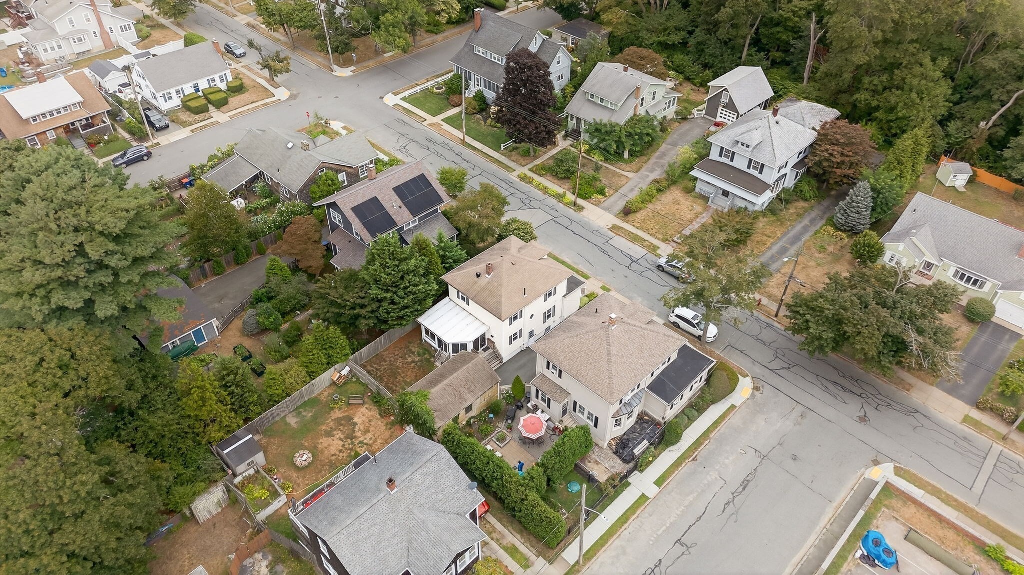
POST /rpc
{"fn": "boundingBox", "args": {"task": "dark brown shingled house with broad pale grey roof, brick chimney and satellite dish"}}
[288,432,487,575]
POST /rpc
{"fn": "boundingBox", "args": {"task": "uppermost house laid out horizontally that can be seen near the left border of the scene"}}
[0,0,142,62]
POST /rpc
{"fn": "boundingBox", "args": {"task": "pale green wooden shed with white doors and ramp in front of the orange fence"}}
[936,155,973,190]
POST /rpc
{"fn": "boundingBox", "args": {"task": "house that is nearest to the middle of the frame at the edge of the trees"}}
[416,235,588,363]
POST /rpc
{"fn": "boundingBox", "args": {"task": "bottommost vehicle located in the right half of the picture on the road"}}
[674,304,722,342]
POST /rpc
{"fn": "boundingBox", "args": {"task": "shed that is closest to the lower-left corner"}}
[217,428,265,477]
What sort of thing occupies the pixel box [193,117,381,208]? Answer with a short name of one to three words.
house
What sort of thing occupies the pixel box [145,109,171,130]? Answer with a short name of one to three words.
truck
